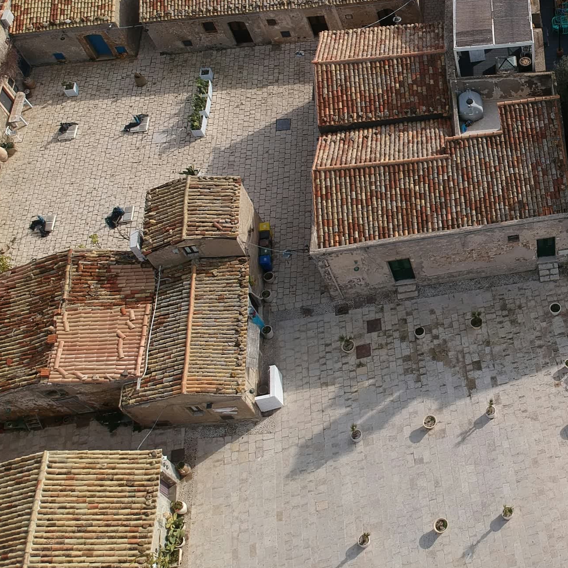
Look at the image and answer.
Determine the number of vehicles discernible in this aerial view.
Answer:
0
